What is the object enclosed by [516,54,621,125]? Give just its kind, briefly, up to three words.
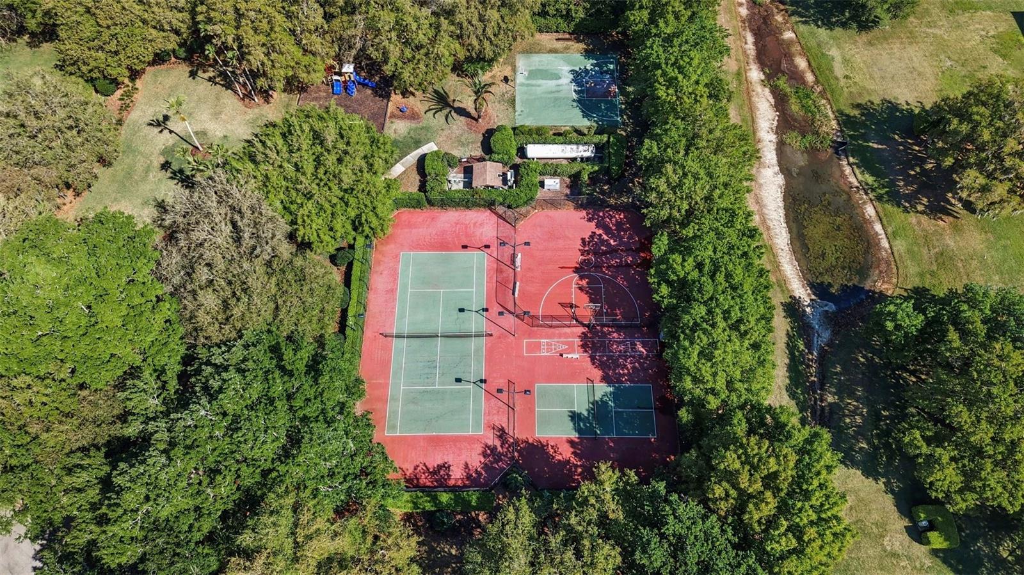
basketball court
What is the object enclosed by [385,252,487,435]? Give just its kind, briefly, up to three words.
tennis court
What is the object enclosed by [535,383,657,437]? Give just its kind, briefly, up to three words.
sports court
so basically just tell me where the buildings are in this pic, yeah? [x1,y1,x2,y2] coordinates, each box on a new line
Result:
[474,162,501,188]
